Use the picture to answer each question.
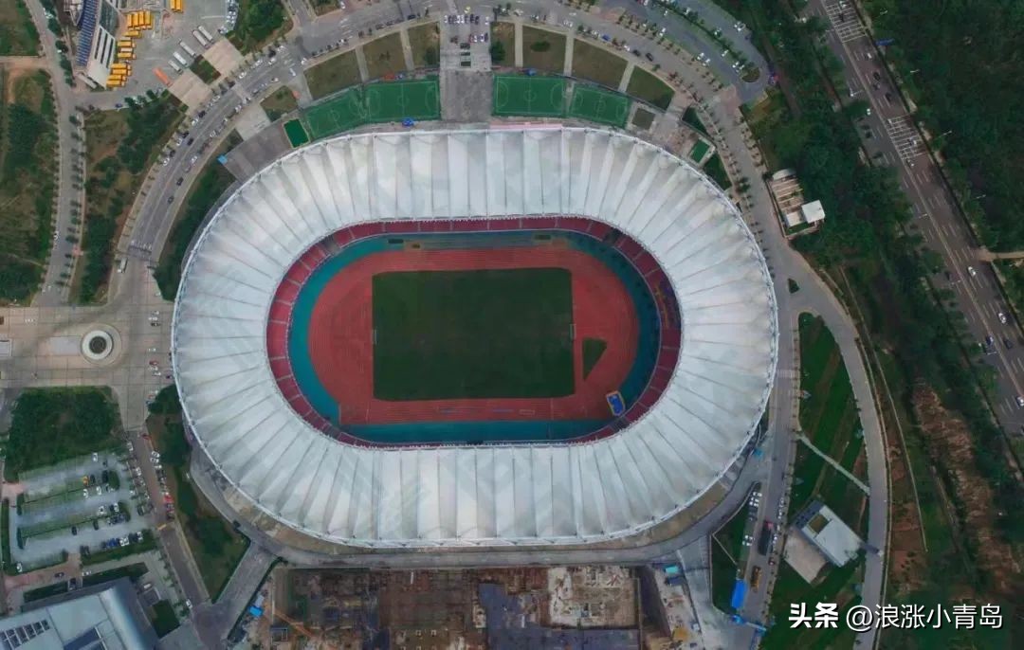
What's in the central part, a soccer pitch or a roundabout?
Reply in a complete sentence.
What appears in the central part is a soccer pitch.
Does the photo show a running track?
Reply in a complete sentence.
Yes, I can see a running track in this picture.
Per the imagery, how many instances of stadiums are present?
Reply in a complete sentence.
The picture shows 1 stadium.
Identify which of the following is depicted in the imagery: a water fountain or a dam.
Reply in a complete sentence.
It is a water fountain that can be seen here.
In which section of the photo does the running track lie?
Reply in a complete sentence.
The running track sits in the center section of the image.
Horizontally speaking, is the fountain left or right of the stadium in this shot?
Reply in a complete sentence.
Looking at the picture, you'll find the fountain to the left of the stadium.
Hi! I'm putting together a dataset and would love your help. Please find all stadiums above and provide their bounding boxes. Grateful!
[171,126,779,551]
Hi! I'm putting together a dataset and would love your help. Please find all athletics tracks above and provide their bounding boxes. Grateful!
[289,231,658,446]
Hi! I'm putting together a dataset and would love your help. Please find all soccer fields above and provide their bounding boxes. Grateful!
[370,268,579,402]
[492,72,568,117]
[363,74,440,123]
[304,85,367,139]
[568,81,632,129]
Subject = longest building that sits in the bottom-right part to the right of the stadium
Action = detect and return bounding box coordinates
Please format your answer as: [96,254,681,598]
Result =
[791,499,862,567]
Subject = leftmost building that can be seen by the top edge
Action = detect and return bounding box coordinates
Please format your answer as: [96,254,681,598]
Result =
[64,0,129,96]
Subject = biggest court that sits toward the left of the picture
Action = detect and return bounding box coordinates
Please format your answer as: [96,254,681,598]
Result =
[282,117,310,148]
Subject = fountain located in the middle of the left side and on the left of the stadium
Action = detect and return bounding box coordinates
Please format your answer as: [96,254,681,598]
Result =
[79,323,123,366]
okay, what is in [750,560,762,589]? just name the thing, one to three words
vehicle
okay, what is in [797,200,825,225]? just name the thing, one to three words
house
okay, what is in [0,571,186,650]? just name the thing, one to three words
building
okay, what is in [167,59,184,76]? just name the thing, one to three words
vehicle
